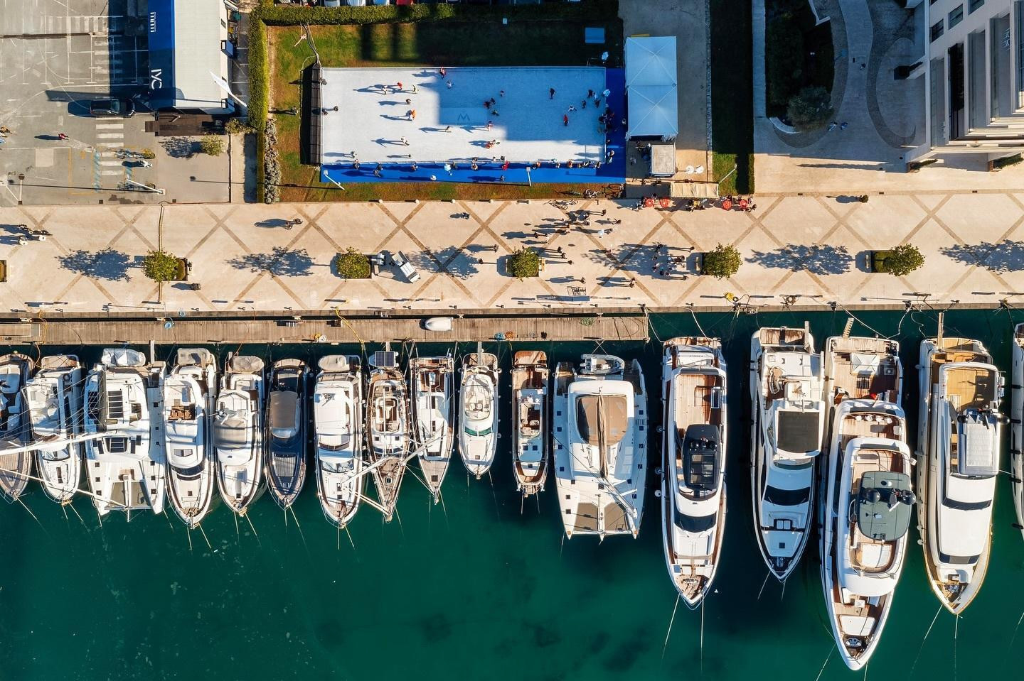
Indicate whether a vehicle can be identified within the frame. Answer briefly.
Yes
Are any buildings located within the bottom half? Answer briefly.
No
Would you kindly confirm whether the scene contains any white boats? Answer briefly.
Yes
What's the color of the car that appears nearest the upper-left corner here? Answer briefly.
black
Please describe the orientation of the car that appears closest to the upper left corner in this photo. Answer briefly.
from side to side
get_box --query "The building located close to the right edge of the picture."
[903,0,1024,166]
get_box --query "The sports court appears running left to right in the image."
[319,63,626,183]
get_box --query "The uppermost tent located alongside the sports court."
[622,36,679,146]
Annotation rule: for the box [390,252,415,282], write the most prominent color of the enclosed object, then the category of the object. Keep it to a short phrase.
white truck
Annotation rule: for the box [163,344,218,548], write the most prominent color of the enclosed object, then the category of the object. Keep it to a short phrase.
white boat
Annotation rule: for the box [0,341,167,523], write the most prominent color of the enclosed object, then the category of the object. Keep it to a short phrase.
white boat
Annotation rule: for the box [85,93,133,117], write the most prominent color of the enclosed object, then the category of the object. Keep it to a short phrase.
black car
